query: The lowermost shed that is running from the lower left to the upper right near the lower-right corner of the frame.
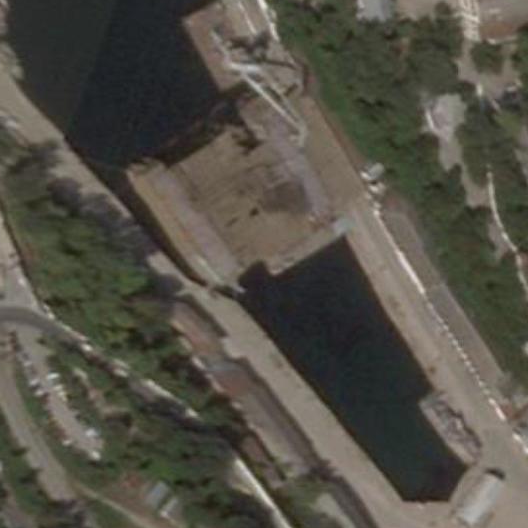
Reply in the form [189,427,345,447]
[455,471,505,528]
